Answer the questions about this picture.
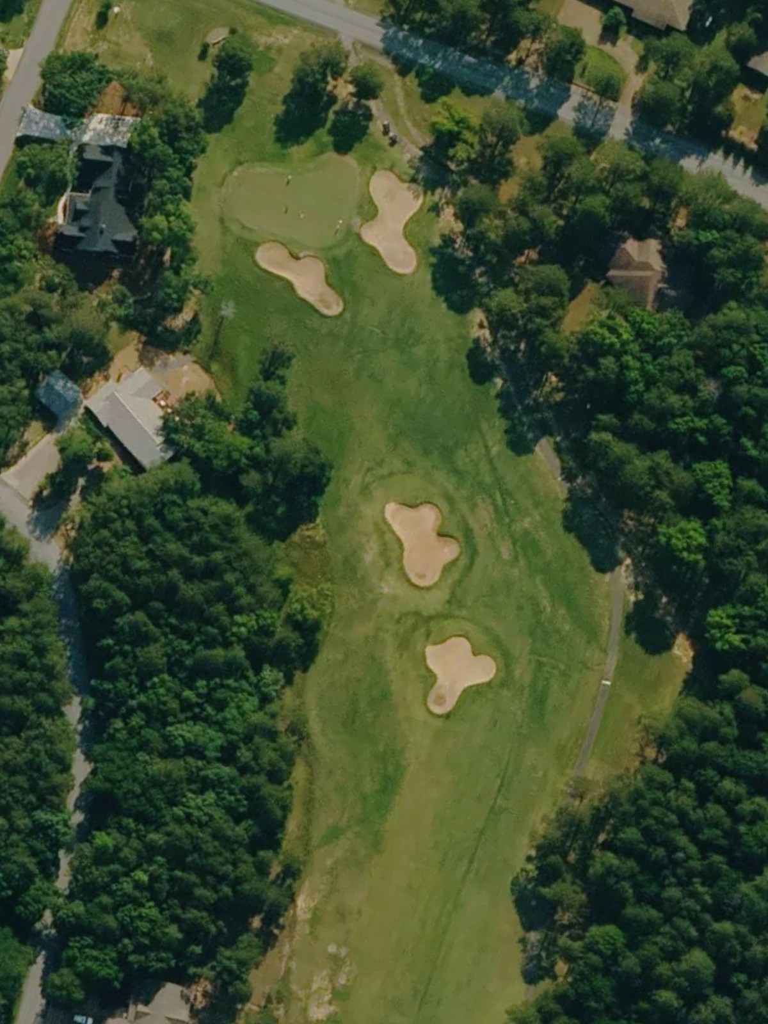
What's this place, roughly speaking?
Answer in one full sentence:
This looks like a golf course.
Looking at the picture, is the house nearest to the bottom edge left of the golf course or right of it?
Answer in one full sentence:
Looking at the picture, you'll find the house nearest to the bottom edge to the left of the golf course.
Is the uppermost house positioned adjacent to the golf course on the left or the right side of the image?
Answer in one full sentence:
The uppermost house positioned adjacent to the golf course sits on the left side.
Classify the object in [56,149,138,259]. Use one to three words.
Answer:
house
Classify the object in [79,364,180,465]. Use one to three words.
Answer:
house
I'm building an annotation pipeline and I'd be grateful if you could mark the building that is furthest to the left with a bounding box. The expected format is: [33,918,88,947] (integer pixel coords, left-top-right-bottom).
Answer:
[38,373,81,418]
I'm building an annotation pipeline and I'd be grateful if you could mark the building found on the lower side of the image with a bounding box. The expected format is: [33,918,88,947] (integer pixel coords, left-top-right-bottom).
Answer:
[100,977,197,1024]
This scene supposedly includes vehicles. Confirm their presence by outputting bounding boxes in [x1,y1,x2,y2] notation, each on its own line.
[383,120,389,130]
[72,1016,93,1024]
[389,132,397,142]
